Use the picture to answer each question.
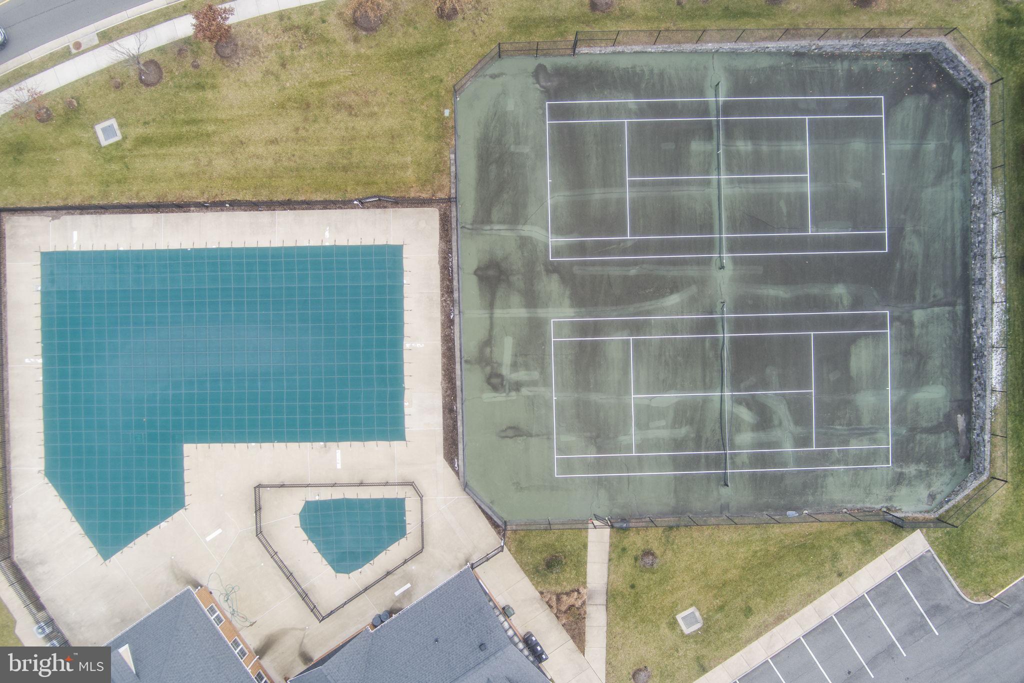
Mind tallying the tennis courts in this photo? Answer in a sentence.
I count 2 tennis courts.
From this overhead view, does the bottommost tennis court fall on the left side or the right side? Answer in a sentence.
The bottommost tennis court sits on the right side.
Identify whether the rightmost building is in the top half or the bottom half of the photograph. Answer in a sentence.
The rightmost building is in the bottom half of the image.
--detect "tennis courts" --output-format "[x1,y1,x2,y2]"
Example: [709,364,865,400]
[455,52,971,289]
[460,276,972,520]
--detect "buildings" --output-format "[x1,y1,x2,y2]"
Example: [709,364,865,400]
[48,584,273,683]
[285,564,552,683]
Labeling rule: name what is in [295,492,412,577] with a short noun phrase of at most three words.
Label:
swimming pool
